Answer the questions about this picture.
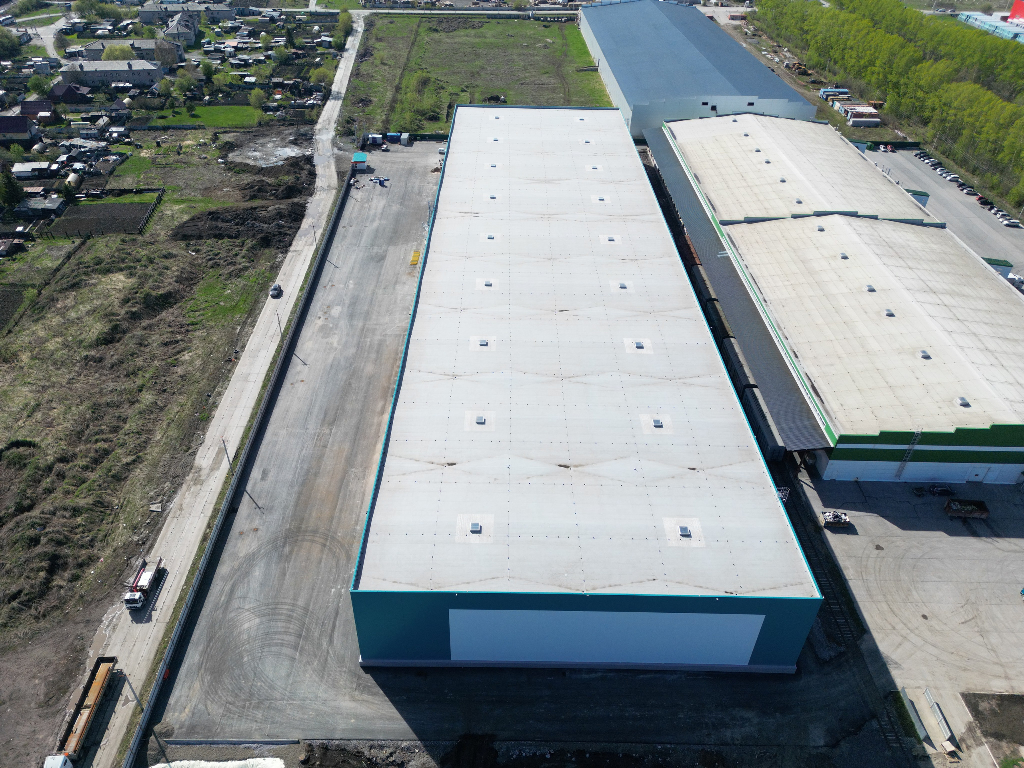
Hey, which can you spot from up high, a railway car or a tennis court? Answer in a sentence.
It is a railway car that can be seen here.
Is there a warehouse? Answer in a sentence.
Yes, a warehouse appears in the view.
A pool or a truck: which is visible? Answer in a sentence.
Of the two, only a truck appears.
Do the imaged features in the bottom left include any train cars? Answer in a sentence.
No, there is no train car in the bottom left.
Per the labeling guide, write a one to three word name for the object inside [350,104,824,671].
warehouse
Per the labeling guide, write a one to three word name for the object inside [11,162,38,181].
shed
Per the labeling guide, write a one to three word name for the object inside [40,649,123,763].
trailer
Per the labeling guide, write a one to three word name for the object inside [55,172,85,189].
greenhouse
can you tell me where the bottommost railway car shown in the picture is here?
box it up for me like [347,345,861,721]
[738,387,785,464]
